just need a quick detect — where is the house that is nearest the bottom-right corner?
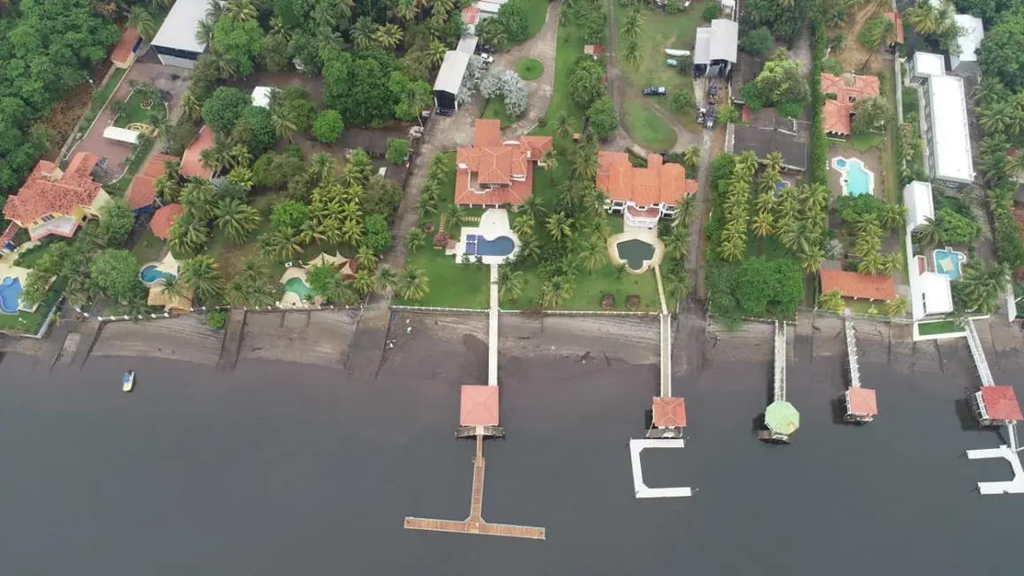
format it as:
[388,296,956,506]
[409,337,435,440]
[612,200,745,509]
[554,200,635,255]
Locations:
[922,275,953,317]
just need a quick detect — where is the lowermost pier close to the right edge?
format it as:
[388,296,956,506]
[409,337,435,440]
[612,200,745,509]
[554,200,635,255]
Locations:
[962,444,1024,497]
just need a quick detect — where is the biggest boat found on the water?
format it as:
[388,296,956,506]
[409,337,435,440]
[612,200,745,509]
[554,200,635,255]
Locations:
[118,369,133,391]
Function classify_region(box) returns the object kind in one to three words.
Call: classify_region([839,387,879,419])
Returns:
gazebo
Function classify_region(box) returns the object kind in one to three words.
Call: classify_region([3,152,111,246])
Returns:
house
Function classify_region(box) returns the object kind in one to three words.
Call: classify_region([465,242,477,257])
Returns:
swimming pool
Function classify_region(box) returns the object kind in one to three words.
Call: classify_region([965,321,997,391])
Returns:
pier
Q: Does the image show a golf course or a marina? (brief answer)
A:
marina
